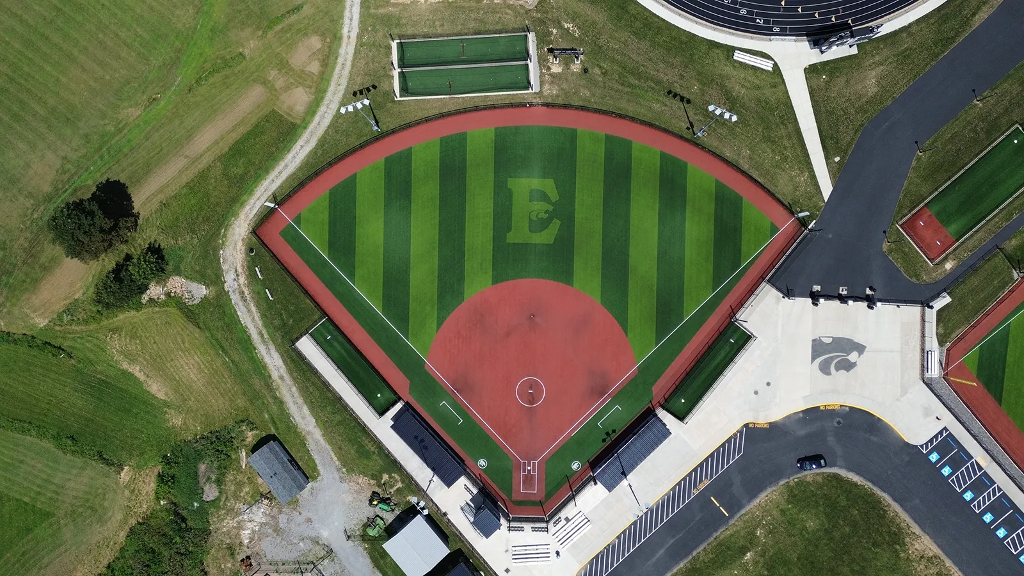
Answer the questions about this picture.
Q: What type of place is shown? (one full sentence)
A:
The area seen from above is a sports ground.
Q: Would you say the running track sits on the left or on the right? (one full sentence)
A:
The running track is on the right side of the image.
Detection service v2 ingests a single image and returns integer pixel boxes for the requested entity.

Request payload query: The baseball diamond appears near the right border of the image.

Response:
[943,279,1024,469]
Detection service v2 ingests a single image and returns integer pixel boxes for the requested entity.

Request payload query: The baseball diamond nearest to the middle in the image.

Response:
[255,106,804,516]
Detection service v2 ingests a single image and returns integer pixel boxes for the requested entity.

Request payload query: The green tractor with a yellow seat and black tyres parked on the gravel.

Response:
[368,495,396,515]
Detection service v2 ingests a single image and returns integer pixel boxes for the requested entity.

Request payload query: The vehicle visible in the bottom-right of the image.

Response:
[798,456,826,471]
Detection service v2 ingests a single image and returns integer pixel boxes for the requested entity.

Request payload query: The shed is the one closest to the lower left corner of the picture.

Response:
[248,440,309,504]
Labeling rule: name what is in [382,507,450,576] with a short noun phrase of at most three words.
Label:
building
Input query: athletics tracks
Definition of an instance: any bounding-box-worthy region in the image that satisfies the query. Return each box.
[658,0,924,40]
